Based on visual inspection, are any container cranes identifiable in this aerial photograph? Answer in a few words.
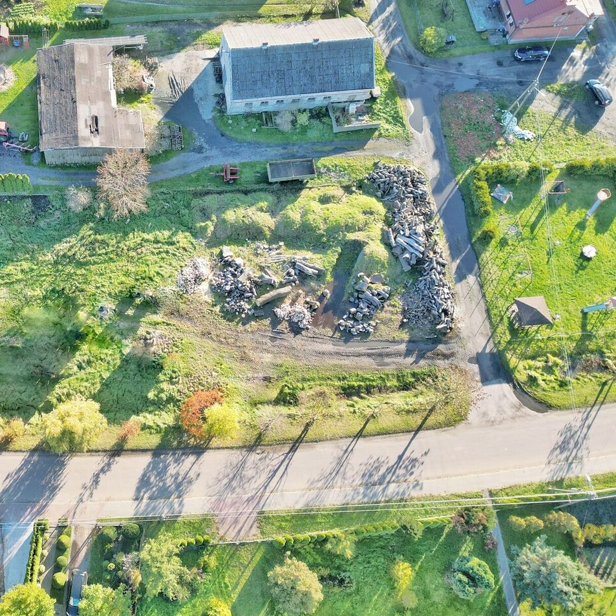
No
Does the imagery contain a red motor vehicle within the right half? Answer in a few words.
No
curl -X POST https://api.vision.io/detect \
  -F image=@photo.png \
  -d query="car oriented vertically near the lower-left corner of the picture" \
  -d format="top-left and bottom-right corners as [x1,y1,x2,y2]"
[65,571,87,616]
